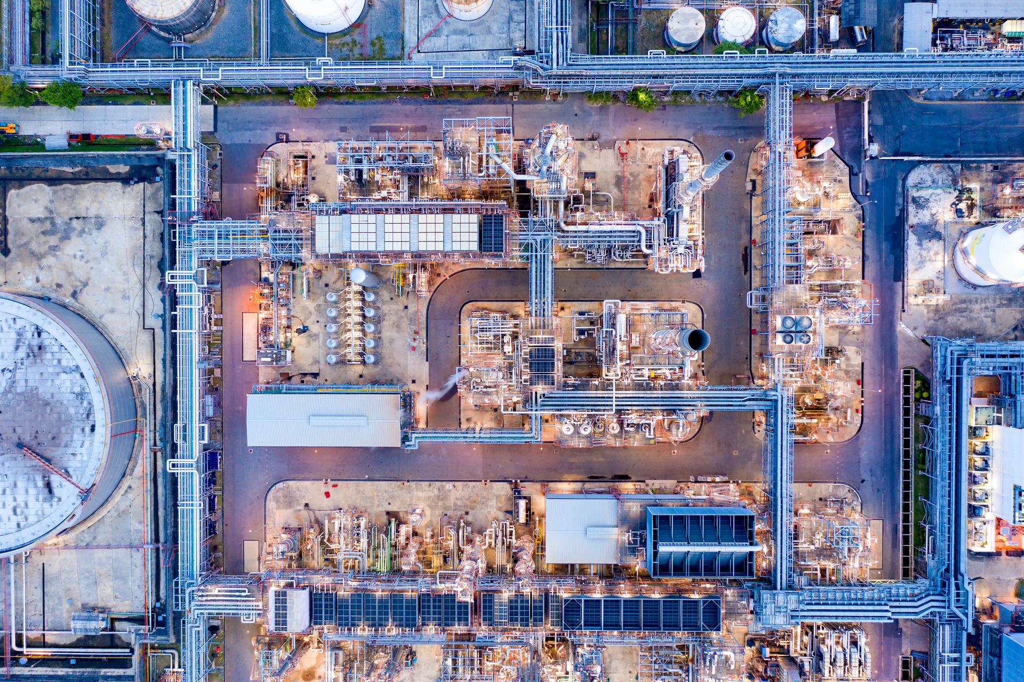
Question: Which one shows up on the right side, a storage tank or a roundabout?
storage tank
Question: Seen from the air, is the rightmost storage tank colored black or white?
white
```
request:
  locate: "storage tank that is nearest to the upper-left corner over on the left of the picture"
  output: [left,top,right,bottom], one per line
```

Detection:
[116,0,227,63]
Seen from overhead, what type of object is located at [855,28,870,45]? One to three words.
vehicle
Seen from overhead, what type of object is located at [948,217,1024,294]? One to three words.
storage tank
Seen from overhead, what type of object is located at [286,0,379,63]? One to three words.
storage tank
